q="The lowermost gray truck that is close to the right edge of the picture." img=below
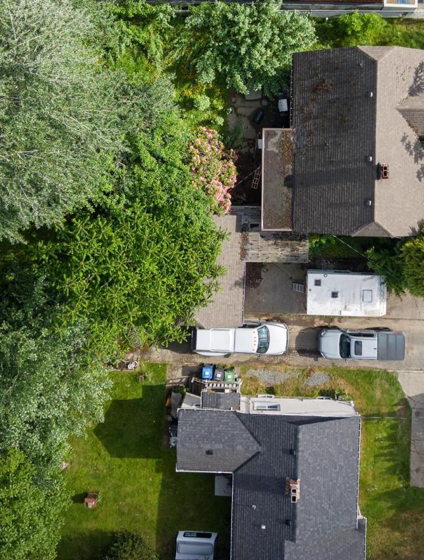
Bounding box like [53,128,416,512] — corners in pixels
[316,324,404,364]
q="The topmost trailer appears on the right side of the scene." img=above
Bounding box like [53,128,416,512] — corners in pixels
[304,269,397,315]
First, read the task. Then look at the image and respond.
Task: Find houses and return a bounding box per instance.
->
[173,377,369,560]
[261,42,424,242]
